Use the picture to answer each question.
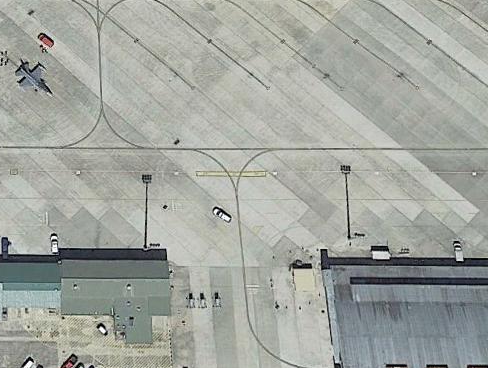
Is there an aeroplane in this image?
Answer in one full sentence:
Yes, there is an aeroplane in the image.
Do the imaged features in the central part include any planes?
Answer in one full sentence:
No, I can find no plane in the central part.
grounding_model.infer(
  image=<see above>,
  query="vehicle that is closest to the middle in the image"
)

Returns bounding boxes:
[212,208,231,223]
